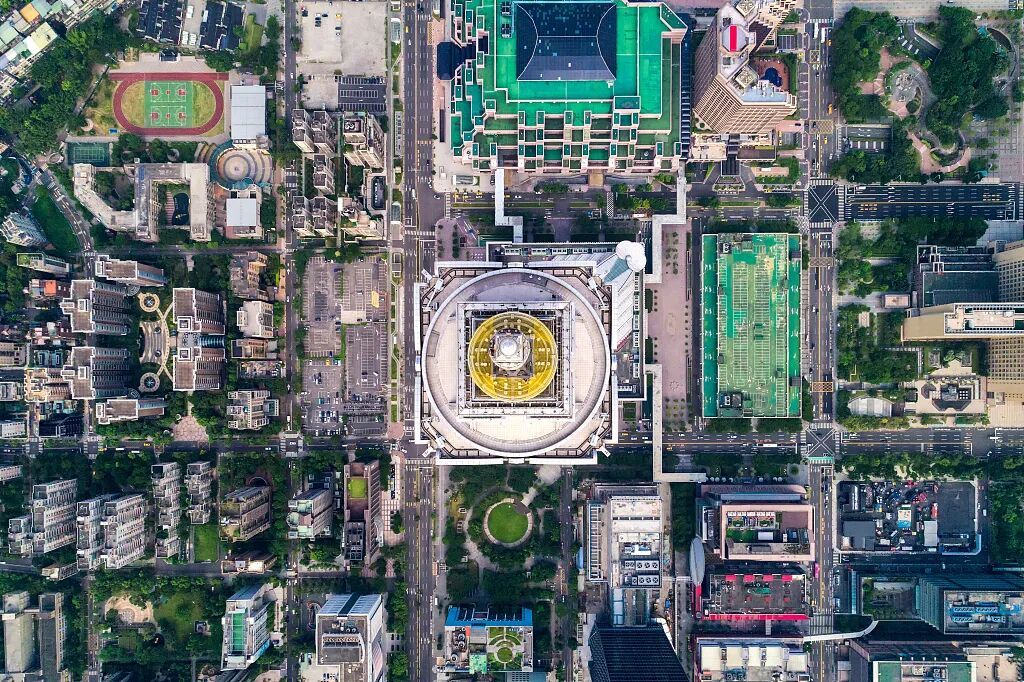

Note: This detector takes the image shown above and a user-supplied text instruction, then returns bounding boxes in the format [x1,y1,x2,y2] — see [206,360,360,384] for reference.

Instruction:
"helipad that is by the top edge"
[721,25,748,54]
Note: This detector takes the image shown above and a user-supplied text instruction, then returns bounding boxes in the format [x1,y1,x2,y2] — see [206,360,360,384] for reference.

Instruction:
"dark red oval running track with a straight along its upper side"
[109,73,229,135]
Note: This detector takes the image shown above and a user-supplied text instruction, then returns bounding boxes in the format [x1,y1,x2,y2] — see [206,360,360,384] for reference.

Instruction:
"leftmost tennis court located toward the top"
[65,142,111,165]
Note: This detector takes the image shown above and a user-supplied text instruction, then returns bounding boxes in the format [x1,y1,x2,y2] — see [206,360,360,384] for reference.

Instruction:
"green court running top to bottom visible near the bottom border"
[230,612,248,654]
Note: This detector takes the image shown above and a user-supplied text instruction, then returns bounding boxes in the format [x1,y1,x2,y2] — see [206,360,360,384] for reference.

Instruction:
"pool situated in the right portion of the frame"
[755,58,789,94]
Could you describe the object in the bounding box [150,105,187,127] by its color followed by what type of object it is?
green basketball court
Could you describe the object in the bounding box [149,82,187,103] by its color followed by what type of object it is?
green basketball court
